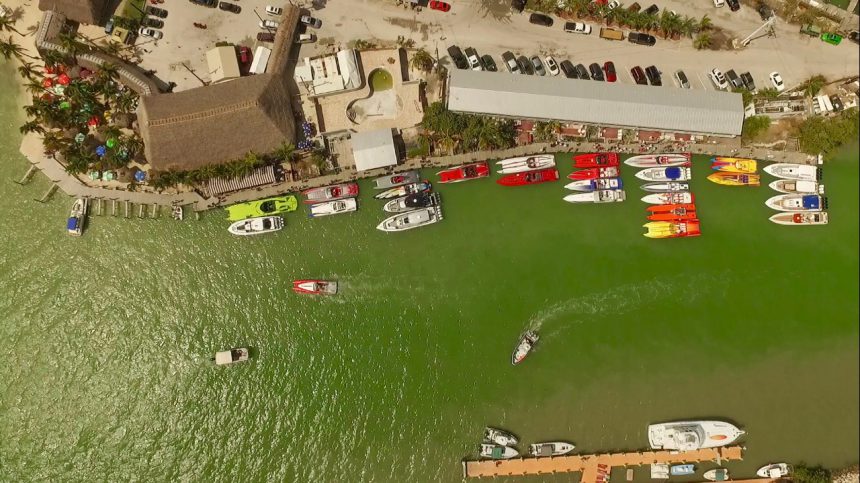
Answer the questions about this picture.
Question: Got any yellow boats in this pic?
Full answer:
Yes, there is a yellow boat in the image.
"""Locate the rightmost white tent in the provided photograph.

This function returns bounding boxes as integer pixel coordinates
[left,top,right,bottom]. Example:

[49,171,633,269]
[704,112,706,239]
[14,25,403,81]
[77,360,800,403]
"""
[338,48,363,92]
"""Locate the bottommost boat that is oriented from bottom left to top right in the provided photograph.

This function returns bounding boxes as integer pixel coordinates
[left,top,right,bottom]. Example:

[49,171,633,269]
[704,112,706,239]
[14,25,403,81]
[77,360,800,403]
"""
[512,332,538,365]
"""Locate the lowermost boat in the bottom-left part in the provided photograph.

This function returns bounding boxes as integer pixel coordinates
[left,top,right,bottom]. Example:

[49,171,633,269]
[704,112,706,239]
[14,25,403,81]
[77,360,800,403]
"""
[208,349,249,365]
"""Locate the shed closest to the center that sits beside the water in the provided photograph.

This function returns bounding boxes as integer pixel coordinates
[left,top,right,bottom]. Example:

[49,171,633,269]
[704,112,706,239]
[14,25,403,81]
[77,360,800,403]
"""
[352,129,397,173]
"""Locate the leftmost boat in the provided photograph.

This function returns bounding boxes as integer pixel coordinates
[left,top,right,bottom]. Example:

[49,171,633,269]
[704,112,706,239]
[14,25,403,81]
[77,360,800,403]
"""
[64,199,86,234]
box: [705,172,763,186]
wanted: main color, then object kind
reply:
yellow boat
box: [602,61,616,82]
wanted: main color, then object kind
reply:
red vehicle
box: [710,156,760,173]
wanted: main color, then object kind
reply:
yellow boat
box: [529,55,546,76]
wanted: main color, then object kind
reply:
gray car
